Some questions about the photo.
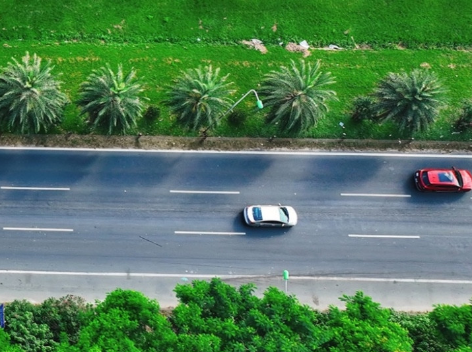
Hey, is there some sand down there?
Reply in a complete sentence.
No, the picture contains no sand.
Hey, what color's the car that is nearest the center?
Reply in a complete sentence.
From above, the car that is nearest the center appears white.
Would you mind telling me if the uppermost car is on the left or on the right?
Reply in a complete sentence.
It is on the right.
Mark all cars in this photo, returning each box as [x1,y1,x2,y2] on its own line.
[241,202,297,228]
[412,166,472,192]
